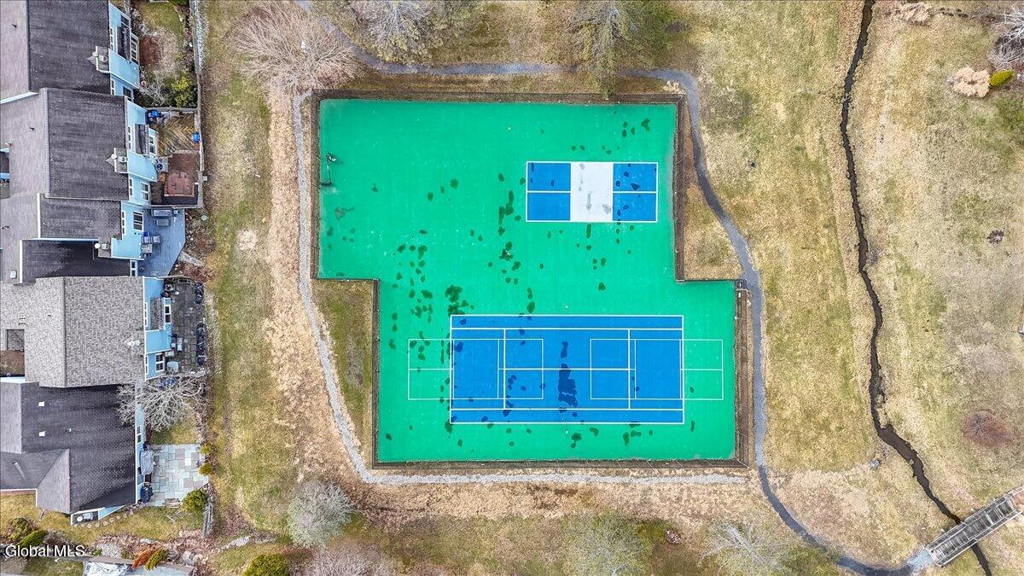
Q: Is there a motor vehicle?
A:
No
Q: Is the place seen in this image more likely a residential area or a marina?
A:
residential area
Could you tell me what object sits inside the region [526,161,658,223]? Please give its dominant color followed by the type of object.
blue sports court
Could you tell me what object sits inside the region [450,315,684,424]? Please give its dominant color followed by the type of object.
blue tennis court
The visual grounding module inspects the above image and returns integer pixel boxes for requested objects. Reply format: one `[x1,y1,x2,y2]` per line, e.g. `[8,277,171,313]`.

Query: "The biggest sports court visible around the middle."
[319,99,736,462]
